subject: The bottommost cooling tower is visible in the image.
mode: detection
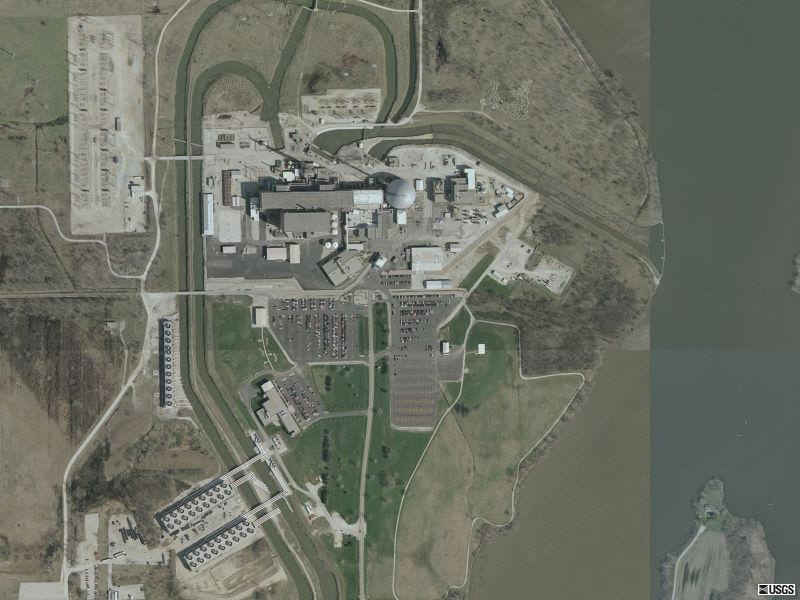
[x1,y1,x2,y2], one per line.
[182,516,258,571]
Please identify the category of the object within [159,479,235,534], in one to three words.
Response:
cooling tower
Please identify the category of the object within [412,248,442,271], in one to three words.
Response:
building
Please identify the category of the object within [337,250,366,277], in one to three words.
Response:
building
